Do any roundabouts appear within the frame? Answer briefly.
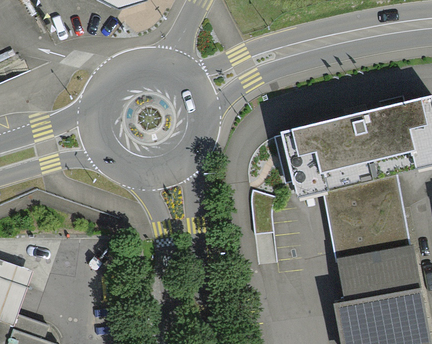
Yes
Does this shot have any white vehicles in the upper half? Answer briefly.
Yes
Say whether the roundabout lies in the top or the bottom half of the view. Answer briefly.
top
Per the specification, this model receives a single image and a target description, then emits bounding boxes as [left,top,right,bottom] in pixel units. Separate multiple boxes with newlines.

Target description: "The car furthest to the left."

[26,245,51,258]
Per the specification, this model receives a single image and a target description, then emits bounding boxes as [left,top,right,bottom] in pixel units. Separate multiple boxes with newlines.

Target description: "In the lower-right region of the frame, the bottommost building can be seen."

[334,288,431,344]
